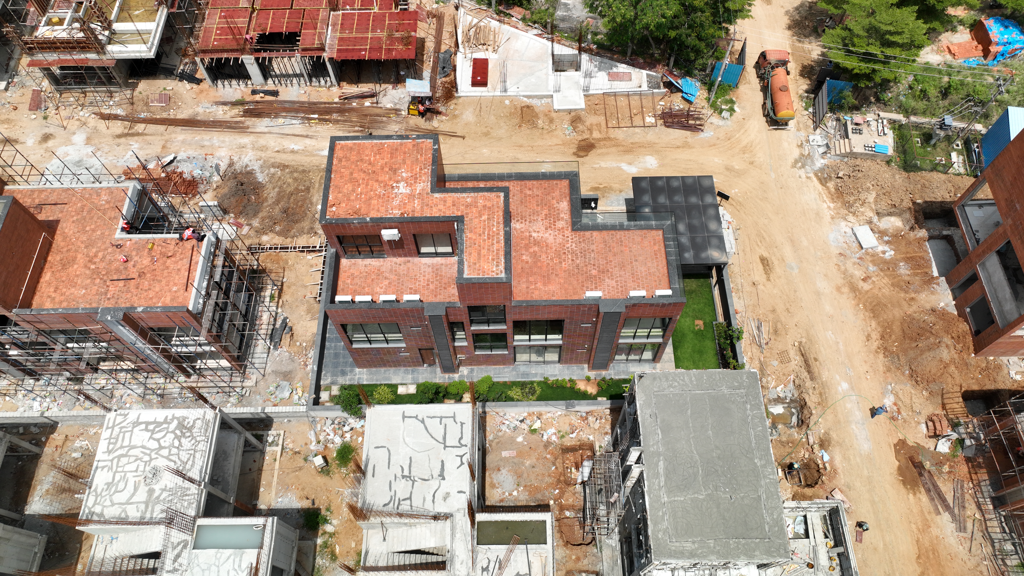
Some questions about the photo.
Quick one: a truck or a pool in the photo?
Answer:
truck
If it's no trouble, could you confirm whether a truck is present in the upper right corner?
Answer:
Yes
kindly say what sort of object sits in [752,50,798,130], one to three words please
truck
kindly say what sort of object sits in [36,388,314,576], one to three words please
house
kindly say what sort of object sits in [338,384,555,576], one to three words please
house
